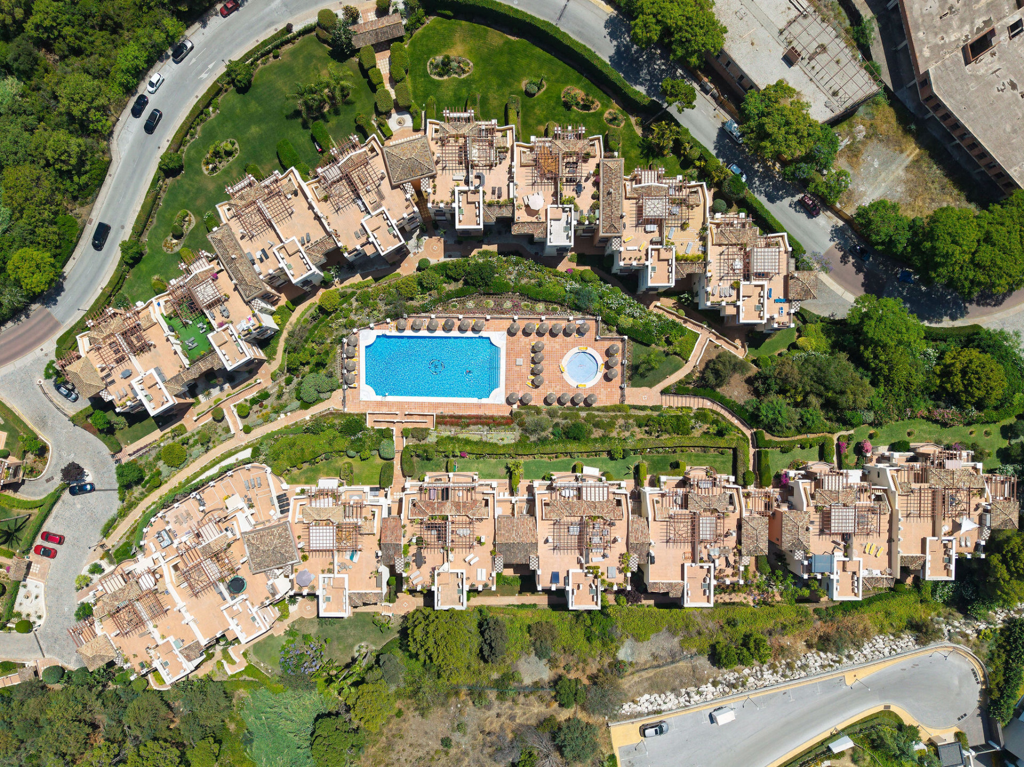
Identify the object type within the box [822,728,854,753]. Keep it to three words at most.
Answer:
building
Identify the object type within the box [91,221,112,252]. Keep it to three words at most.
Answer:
vehicle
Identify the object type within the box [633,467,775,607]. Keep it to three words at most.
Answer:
house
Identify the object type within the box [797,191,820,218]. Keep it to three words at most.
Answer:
car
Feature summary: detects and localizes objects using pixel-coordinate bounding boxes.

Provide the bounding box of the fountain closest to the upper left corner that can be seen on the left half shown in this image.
[392,113,408,130]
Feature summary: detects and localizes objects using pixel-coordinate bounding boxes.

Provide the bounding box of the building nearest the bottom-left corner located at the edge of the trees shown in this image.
[18,660,45,683]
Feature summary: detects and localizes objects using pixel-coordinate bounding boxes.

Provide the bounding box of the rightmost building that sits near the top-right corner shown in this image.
[882,0,1024,206]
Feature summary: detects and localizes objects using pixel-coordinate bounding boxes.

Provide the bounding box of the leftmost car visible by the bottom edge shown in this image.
[639,720,669,739]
